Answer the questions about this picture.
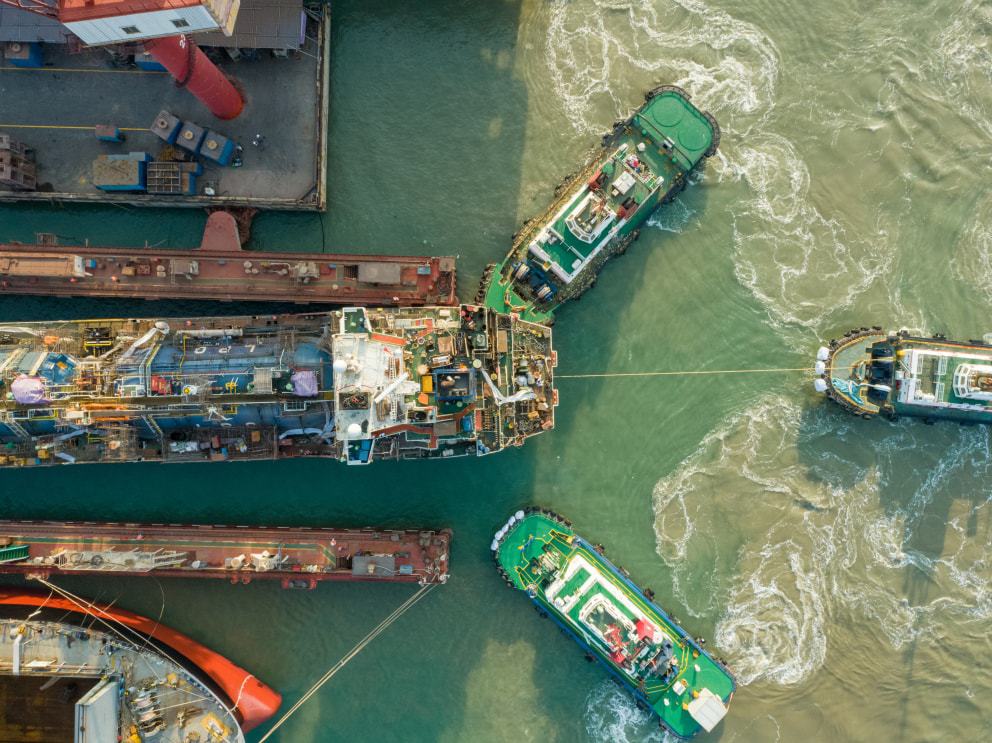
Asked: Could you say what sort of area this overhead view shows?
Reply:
port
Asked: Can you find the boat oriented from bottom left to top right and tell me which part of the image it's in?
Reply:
top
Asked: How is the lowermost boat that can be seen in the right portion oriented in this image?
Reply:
at an angle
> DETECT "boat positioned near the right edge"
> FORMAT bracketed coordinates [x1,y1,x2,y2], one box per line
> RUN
[815,332,992,425]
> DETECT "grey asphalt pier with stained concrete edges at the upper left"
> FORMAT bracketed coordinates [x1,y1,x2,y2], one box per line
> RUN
[0,0,330,207]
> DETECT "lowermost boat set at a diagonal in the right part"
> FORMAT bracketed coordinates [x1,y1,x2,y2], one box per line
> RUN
[490,510,733,740]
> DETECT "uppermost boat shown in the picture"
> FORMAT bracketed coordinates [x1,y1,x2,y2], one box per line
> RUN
[476,80,719,325]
